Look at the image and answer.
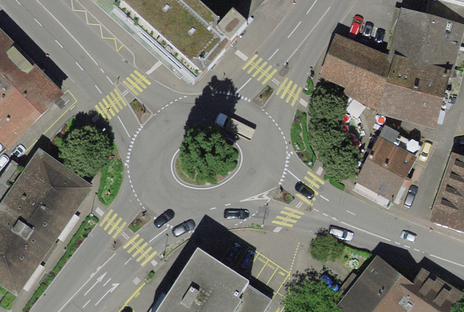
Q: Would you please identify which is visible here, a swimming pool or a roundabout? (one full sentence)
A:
I can see a roundabout in this picture.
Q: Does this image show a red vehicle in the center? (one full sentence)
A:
No, the scene shows no red vehicle in the center.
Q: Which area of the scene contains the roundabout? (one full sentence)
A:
The roundabout appears toward the center of the photo.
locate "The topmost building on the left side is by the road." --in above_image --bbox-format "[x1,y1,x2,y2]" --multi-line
[104,0,248,87]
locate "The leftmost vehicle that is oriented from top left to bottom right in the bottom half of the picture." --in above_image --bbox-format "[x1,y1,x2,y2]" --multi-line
[294,180,316,201]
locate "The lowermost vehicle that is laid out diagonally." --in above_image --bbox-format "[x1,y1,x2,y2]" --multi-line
[321,273,340,292]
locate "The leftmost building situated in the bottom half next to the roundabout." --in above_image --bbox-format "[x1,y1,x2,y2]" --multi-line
[0,149,92,296]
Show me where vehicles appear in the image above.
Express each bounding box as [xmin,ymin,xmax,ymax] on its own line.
[239,249,258,270]
[225,208,249,220]
[362,20,374,39]
[10,142,28,160]
[154,209,176,230]
[452,136,464,146]
[0,153,12,172]
[350,14,364,36]
[294,180,316,201]
[374,26,386,45]
[214,112,258,141]
[321,273,340,292]
[404,186,418,208]
[401,230,416,242]
[420,140,433,162]
[329,226,354,242]
[172,220,196,238]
